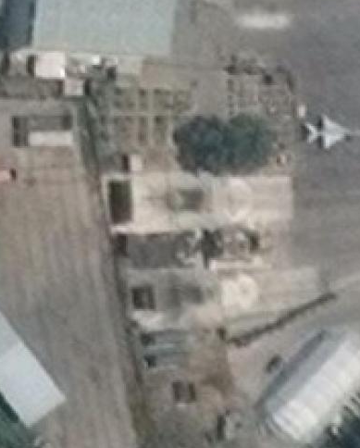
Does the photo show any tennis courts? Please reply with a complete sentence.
No, the picture doesn't show any tennis court.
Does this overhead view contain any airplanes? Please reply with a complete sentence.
Yes, there's an airplane down there.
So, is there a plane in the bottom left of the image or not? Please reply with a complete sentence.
No, in the bottom left of the image there is no plane.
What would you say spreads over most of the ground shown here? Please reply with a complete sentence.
Most of the picture is covered by paved ground.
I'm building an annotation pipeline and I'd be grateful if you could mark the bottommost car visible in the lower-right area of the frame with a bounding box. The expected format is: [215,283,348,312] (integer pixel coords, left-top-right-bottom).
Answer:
[267,355,284,371]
